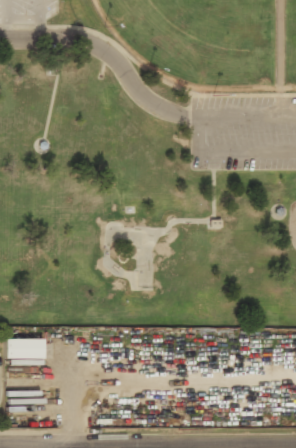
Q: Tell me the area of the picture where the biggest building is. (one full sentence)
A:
The biggest building appears toward the bottom left of the photo.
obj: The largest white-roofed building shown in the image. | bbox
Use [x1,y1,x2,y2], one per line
[5,340,47,360]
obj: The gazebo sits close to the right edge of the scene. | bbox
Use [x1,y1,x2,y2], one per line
[271,204,286,220]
